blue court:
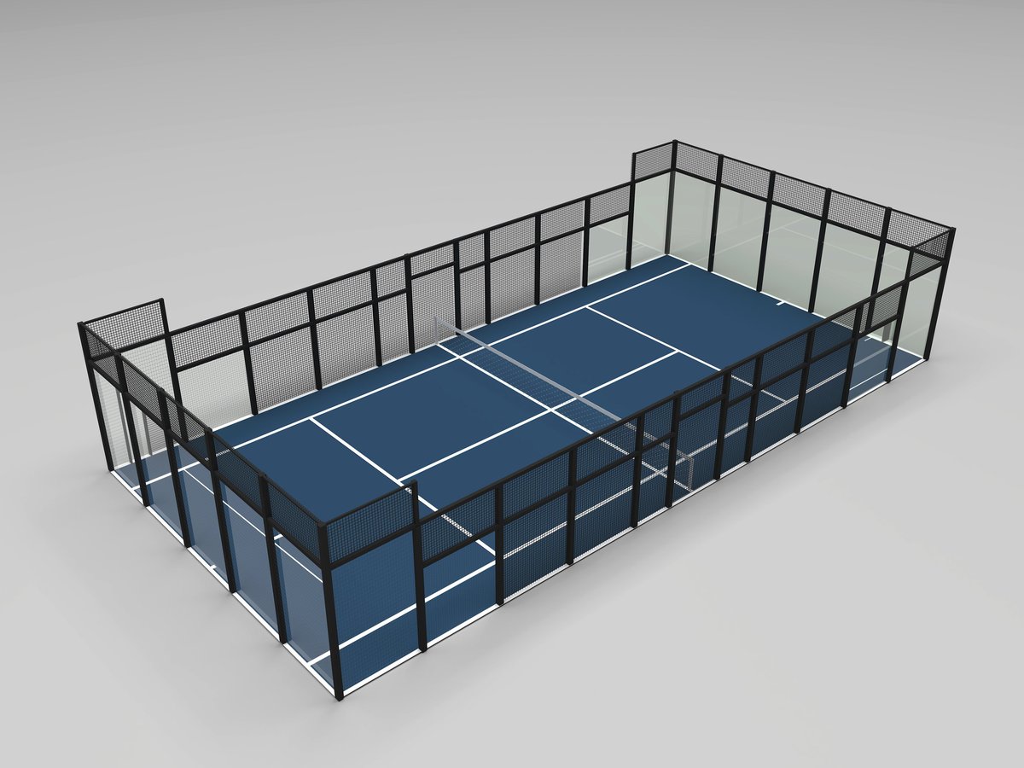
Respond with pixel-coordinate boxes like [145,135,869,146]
[111,253,926,698]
